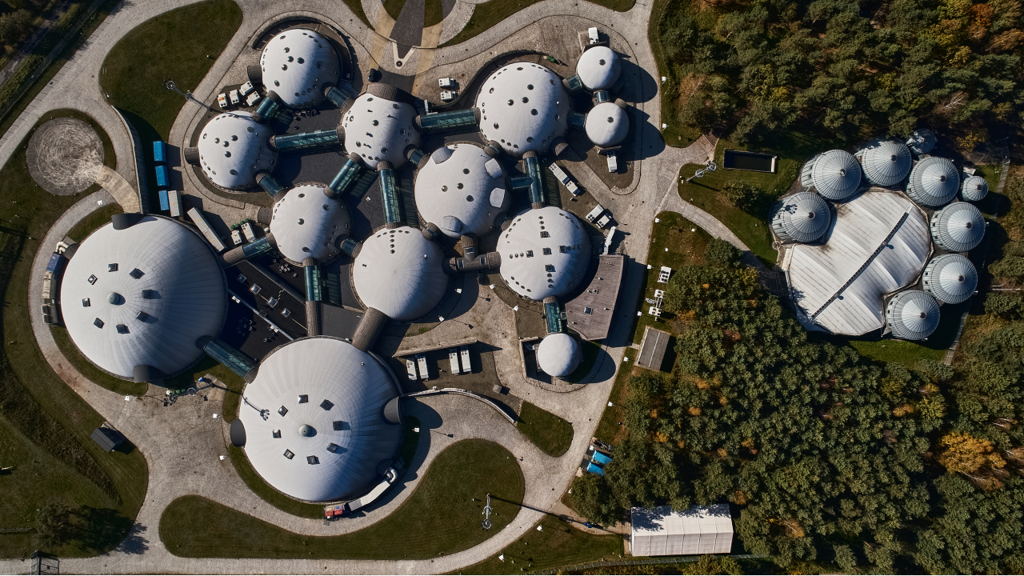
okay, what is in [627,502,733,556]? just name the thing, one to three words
tent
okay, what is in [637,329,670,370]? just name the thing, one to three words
building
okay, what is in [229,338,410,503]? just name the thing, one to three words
building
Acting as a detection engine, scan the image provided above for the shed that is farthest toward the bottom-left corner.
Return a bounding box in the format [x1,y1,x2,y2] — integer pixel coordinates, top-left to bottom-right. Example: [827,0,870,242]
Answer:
[90,424,122,452]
